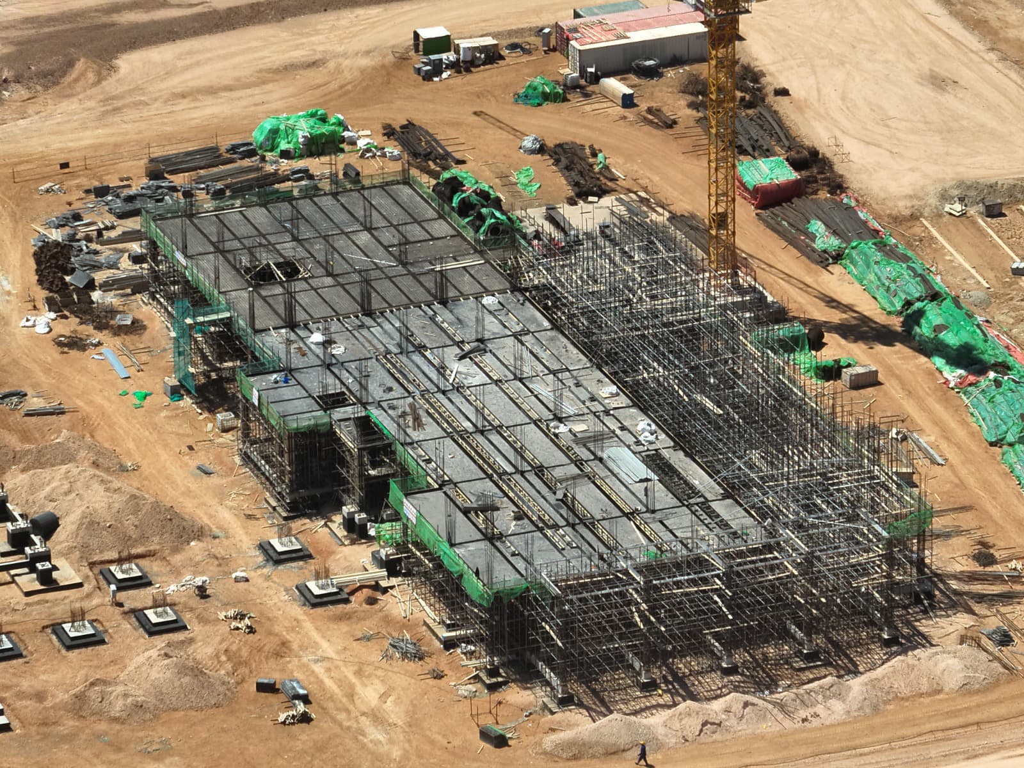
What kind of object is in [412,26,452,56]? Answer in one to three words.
shed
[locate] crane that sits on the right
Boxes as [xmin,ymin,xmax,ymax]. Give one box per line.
[686,0,765,296]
